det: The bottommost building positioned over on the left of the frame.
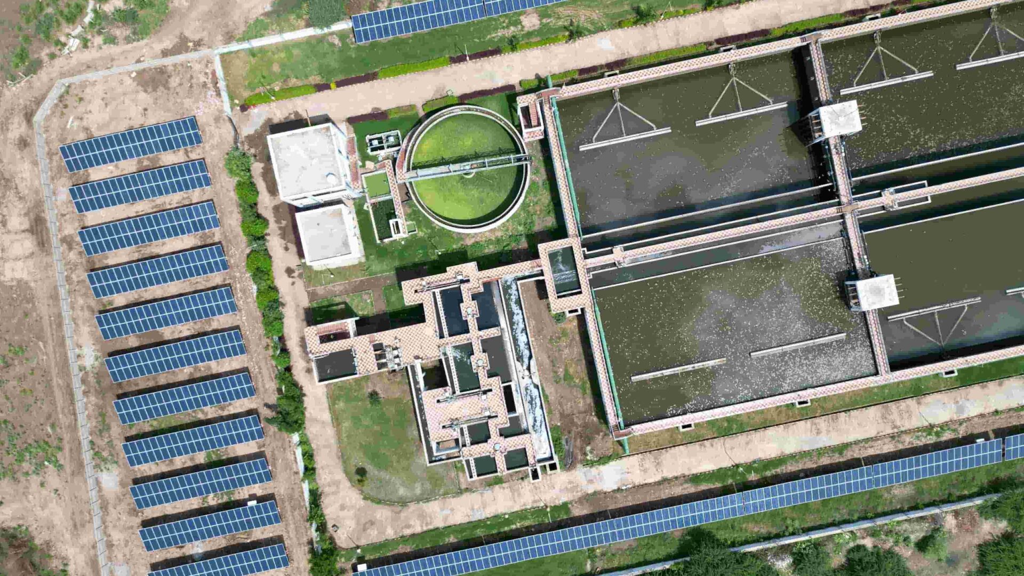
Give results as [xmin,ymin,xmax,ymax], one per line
[295,195,368,266]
